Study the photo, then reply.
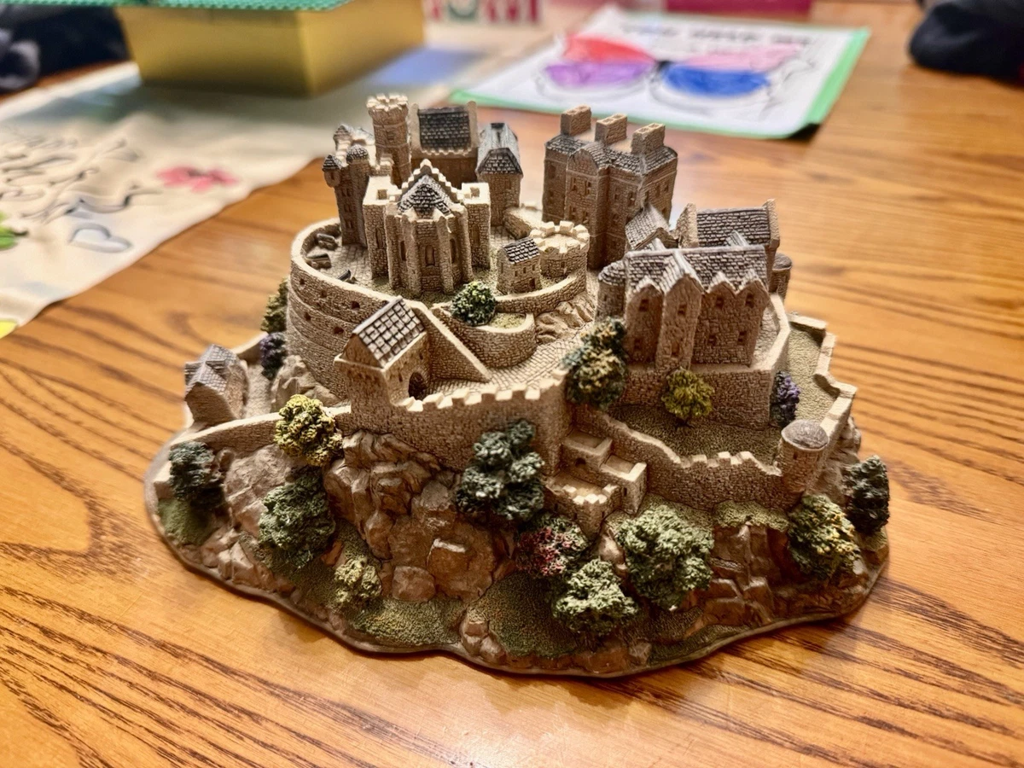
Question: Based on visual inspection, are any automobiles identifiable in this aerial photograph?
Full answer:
No, the scene contains no automobile.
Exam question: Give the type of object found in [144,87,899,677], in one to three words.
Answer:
building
